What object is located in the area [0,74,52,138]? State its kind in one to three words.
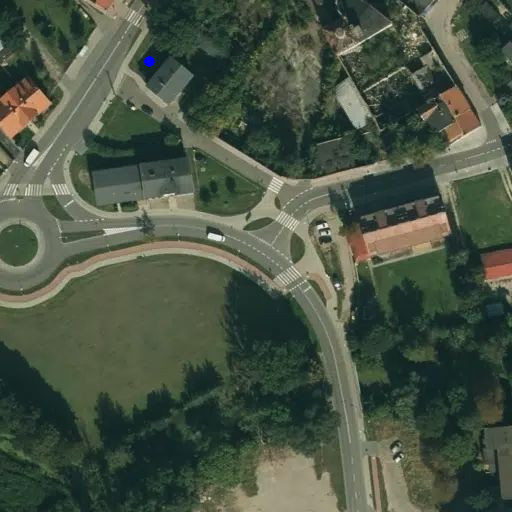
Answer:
house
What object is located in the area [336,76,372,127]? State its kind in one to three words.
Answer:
barn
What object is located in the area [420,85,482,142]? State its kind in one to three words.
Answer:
house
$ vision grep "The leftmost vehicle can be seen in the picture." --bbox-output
[24,148,40,166]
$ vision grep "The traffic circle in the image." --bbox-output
[0,201,61,289]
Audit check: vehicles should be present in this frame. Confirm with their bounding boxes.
[80,7,90,19]
[394,452,406,464]
[316,222,330,230]
[24,148,40,166]
[319,236,332,244]
[318,229,332,237]
[390,440,402,453]
[124,98,136,108]
[208,232,225,242]
[334,280,342,292]
[78,44,90,58]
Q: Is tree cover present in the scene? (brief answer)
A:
Yes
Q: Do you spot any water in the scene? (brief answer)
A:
No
